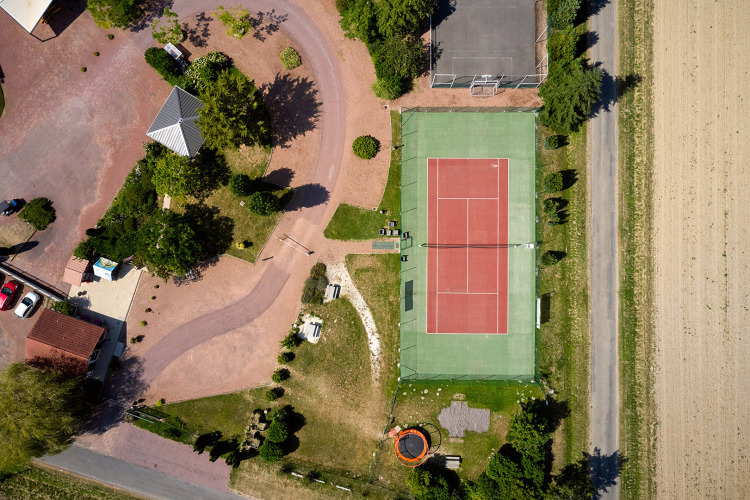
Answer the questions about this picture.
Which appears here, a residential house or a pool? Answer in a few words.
residential house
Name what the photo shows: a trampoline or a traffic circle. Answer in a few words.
trampoline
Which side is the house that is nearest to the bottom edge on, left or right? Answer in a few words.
left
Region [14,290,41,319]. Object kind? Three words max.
car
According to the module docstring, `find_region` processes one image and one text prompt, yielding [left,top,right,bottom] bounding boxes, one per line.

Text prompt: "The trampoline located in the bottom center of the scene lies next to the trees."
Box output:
[395,426,428,466]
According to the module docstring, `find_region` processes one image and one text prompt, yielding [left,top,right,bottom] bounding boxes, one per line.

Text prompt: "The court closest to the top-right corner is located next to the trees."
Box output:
[431,0,535,89]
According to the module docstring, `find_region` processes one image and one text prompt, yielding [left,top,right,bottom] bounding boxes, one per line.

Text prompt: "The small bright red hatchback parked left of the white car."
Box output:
[0,279,23,309]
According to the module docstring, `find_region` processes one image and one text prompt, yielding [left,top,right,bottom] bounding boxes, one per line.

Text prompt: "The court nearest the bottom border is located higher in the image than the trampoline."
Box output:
[399,111,536,380]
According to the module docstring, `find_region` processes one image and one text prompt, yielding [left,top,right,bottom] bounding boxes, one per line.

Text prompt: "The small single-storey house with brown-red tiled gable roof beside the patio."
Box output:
[25,307,110,384]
